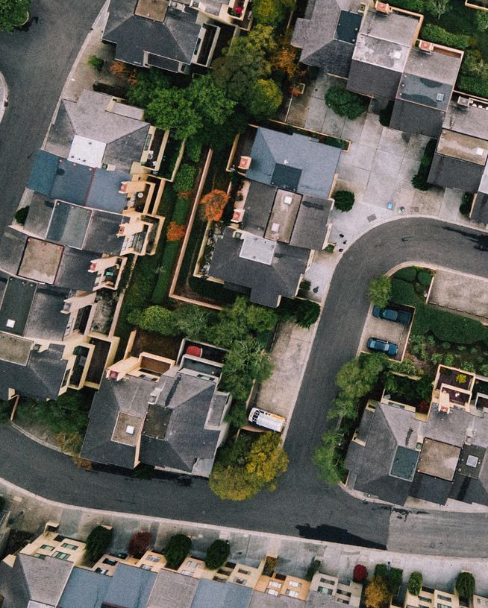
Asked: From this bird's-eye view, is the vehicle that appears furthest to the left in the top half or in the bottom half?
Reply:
bottom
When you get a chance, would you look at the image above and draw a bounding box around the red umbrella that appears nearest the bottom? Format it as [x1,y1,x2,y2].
[188,344,201,356]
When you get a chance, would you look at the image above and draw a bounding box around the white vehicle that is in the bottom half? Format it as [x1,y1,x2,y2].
[247,406,288,434]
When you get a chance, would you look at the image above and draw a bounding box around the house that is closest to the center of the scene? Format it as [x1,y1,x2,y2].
[208,227,311,306]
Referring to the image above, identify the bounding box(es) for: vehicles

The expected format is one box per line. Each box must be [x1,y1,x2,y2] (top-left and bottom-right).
[247,406,288,434]
[374,304,412,325]
[367,337,398,355]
